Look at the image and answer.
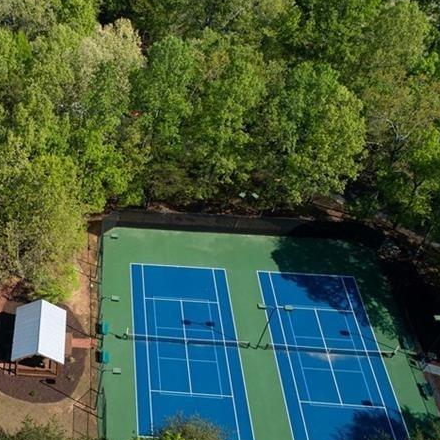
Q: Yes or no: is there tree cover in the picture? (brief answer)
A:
Yes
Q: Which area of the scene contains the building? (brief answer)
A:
bottom left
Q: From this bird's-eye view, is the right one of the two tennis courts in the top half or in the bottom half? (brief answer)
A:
bottom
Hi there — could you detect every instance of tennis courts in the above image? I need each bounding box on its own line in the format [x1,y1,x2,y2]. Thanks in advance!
[101,229,273,440]
[234,234,440,440]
